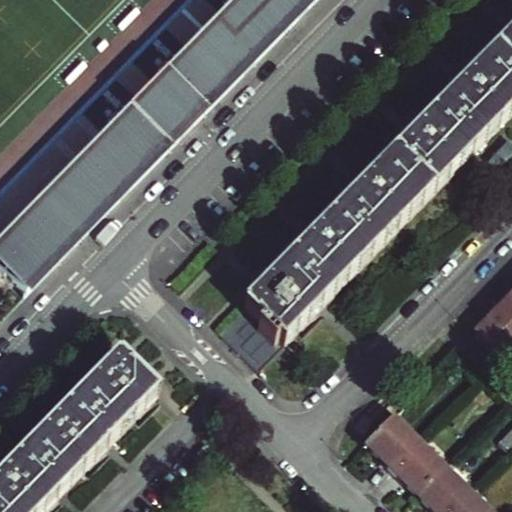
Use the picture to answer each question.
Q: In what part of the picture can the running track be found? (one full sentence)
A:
Look in the top left portion of the view to spot the running track.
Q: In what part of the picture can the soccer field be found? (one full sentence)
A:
The soccer field sits in the top left section of the image.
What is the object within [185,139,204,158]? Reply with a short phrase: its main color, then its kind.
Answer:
white car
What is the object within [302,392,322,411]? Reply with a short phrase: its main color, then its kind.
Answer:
white car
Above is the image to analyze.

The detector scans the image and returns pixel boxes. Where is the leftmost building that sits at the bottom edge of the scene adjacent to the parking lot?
[0,341,162,512]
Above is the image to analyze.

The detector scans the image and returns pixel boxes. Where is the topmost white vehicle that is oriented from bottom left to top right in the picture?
[234,88,254,107]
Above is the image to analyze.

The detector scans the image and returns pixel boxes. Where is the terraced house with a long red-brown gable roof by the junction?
[366,415,494,512]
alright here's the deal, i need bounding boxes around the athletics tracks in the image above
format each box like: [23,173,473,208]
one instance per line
[0,0,177,178]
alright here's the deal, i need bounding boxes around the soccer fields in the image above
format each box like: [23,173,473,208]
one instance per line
[0,0,156,154]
